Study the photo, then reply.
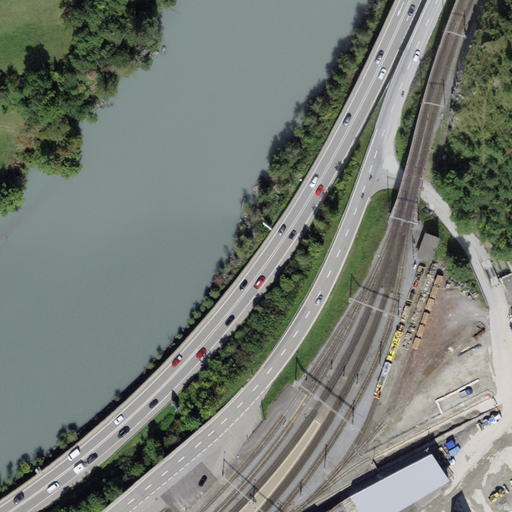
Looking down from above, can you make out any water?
Yes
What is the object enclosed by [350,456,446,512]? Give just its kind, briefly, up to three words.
building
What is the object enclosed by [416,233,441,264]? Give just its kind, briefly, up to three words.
shed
